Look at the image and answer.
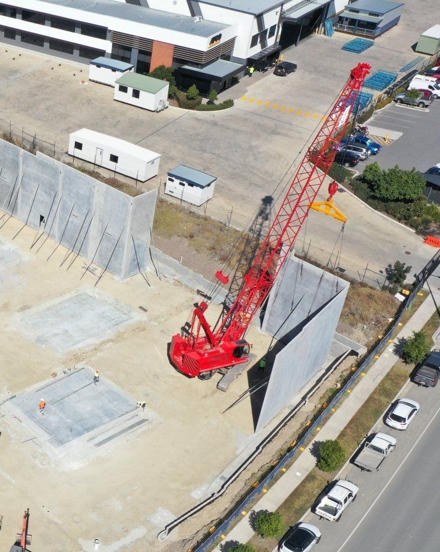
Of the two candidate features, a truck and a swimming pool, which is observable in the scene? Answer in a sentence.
The image shows a truck.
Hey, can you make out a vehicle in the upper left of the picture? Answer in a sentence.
No, in the upper left of the picture there is no vehicle.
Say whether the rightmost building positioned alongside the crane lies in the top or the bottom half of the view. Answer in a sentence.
You can find the rightmost building positioned alongside the crane in the top half.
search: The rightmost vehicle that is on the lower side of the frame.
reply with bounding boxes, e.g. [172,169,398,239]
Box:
[415,348,440,388]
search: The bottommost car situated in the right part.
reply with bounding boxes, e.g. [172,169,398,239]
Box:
[280,521,321,552]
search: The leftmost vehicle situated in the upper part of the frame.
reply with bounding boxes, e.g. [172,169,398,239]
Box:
[271,59,298,76]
